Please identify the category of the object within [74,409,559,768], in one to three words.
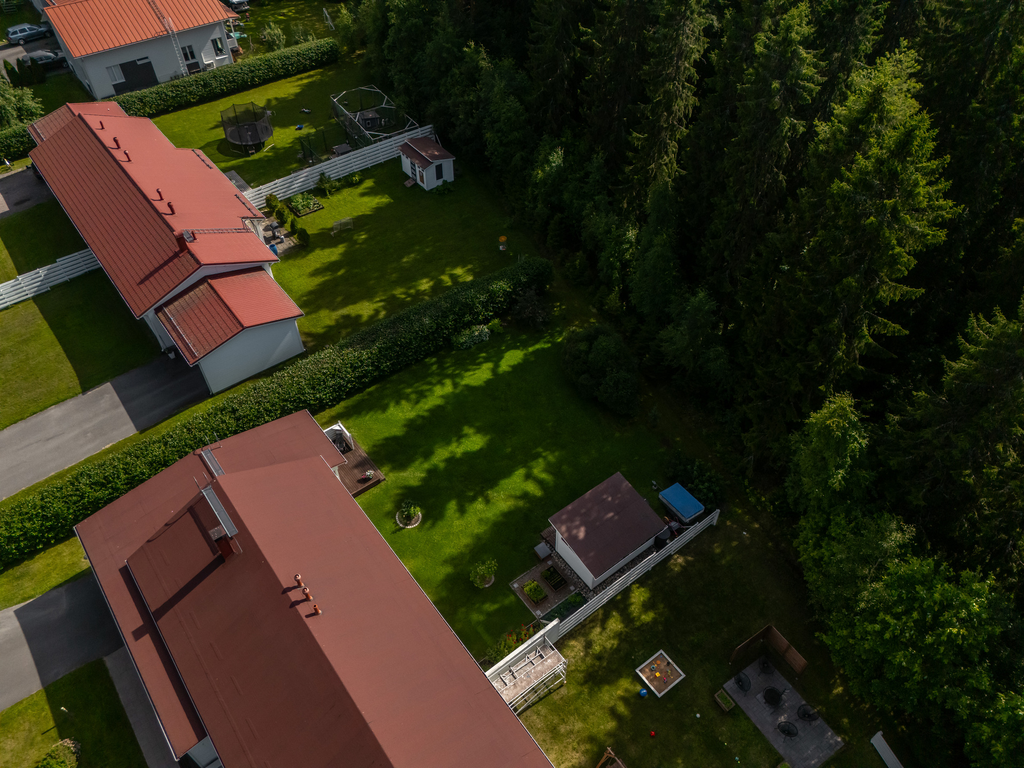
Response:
house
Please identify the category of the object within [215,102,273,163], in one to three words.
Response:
trampoline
